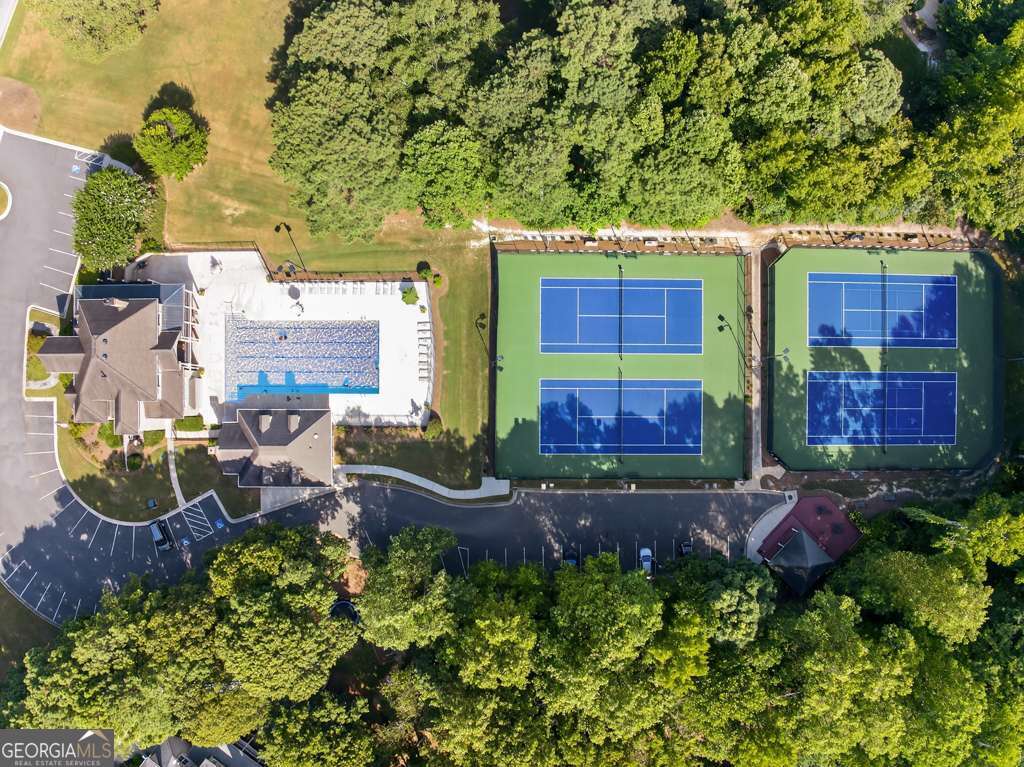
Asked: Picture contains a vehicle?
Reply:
Yes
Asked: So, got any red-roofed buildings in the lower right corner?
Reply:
No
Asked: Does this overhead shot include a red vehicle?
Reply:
No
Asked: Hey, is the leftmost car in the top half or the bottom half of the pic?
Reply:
bottom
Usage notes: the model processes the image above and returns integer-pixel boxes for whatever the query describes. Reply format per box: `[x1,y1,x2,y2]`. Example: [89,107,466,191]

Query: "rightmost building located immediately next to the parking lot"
[765,527,835,595]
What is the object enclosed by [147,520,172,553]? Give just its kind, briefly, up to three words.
car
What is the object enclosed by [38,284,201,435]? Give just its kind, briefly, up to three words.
building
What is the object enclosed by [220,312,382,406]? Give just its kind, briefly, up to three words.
swimming pool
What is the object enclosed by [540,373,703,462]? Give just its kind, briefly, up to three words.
tennis court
